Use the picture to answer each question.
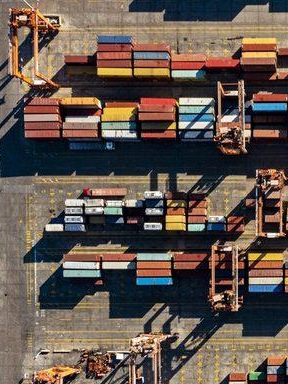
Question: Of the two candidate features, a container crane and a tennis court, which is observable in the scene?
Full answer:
The one in the frame is a container crane.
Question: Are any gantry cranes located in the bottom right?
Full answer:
Yes, there is a gantry crane in the bottom right.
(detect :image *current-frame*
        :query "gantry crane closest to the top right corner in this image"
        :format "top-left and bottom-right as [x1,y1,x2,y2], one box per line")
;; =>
[214,80,263,166]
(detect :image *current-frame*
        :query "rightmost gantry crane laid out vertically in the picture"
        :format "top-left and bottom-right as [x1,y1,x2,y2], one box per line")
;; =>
[252,167,288,246]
